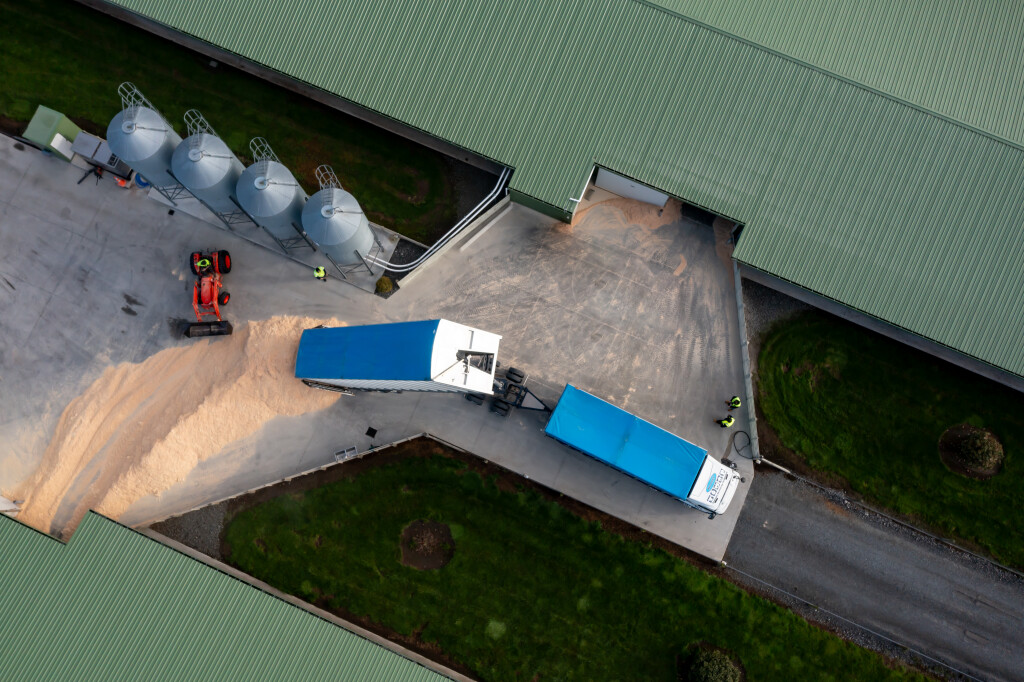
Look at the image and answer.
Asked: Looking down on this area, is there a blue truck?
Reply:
Yes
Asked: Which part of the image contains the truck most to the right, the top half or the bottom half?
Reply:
bottom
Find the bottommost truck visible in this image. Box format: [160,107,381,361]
[540,384,752,526]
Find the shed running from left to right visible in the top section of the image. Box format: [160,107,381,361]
[61,0,1024,397]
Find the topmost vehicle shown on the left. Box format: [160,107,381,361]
[186,249,235,336]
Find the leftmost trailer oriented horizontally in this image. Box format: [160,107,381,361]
[297,319,555,415]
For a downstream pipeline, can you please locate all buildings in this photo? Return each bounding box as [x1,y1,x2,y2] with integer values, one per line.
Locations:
[61,0,1024,397]
[0,492,480,682]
